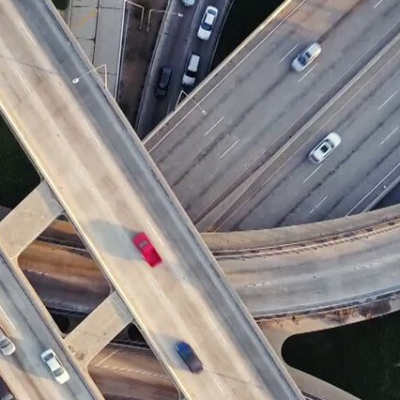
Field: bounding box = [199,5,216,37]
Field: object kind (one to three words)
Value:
car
